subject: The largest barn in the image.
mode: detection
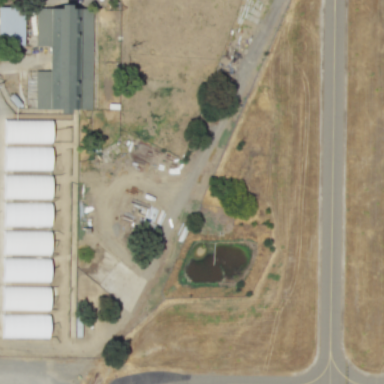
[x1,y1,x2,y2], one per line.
[38,3,94,112]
